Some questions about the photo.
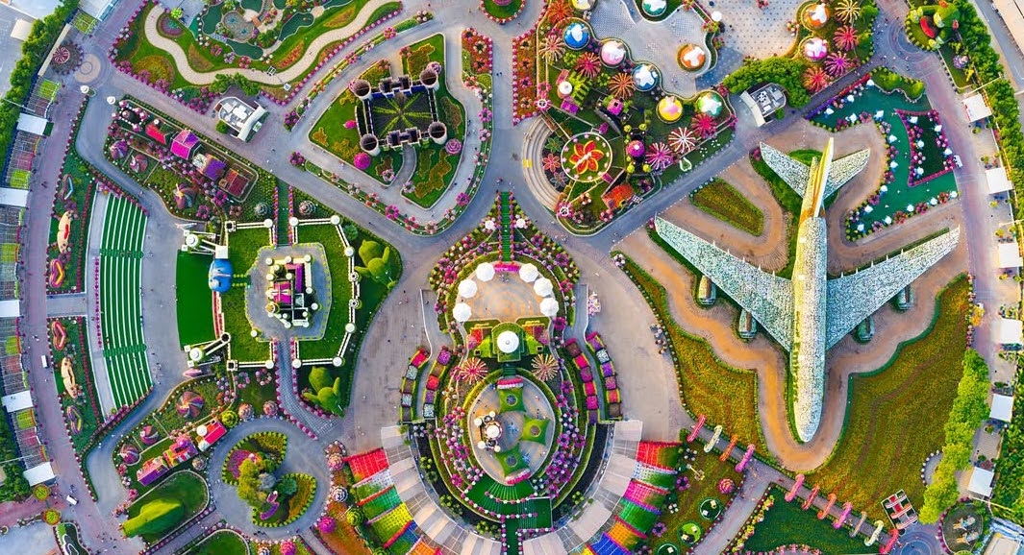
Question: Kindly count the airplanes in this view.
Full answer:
In total, there is 1 airplane in the scene.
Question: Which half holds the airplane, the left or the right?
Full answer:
The airplane appears in the right half of the scene.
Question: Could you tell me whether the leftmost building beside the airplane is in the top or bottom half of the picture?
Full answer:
You can find the leftmost building beside the airplane in the top half.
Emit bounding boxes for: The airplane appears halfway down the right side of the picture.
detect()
[655,138,959,442]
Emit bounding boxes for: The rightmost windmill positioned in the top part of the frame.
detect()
[169,185,199,209]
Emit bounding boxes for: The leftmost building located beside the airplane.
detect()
[731,78,789,130]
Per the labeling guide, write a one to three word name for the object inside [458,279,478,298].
umbrella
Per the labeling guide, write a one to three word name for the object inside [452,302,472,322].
umbrella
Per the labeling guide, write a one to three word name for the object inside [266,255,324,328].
building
